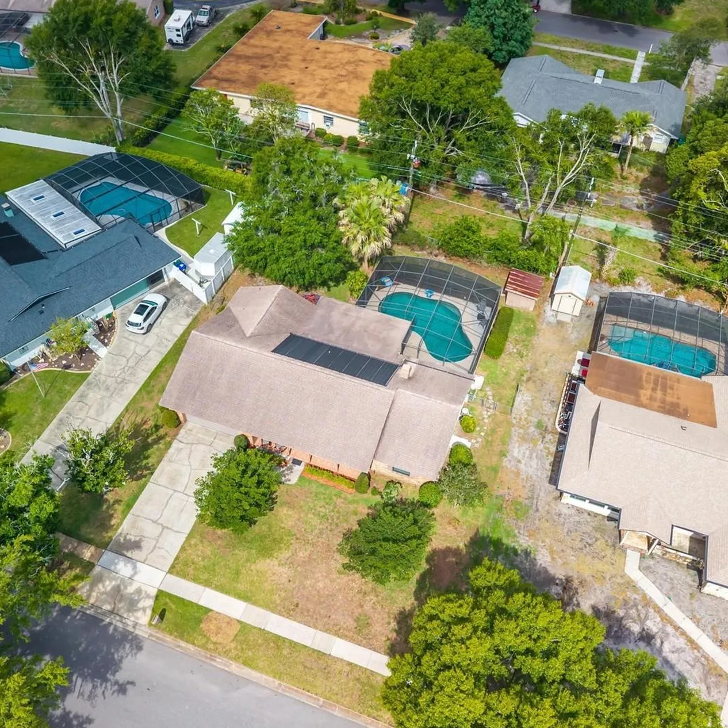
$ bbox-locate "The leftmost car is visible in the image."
[126,292,166,333]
